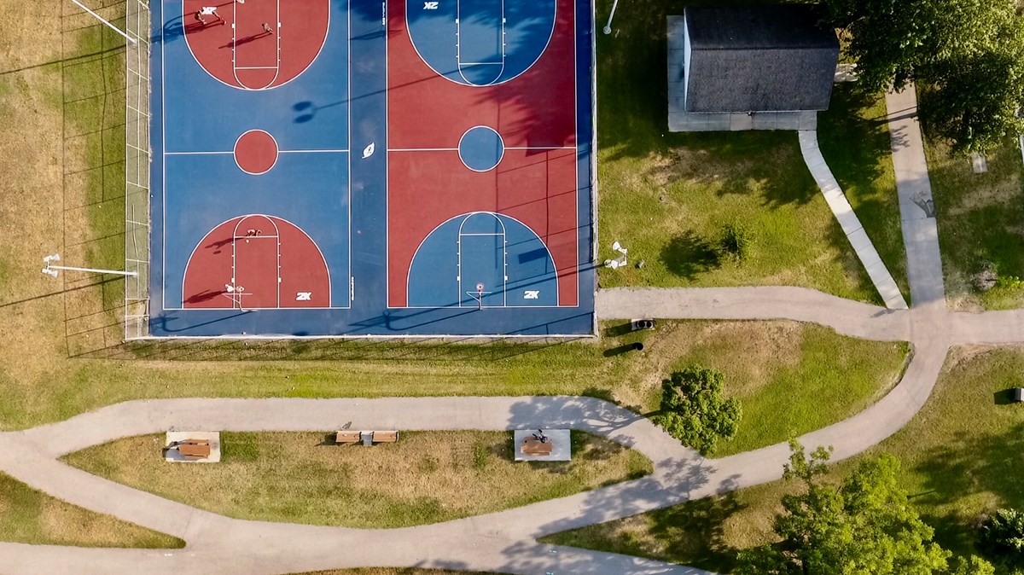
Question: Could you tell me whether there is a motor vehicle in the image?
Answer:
No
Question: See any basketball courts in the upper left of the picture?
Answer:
Yes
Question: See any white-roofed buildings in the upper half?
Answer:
No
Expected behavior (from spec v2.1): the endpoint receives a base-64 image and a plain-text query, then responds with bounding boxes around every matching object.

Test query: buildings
[678,6,839,120]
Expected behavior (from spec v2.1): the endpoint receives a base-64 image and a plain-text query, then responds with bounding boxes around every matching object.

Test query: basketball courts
[162,0,354,311]
[382,0,578,309]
